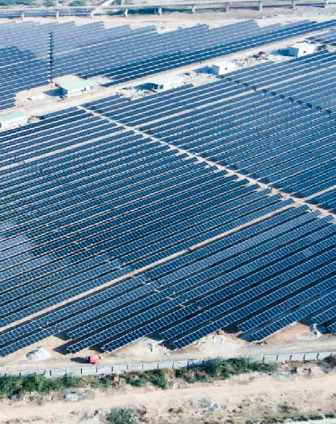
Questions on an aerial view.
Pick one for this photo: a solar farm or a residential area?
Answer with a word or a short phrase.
solar farm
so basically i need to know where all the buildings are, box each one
[149,75,186,93]
[59,78,98,97]
[0,110,28,130]
[210,59,235,74]
[288,41,316,57]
